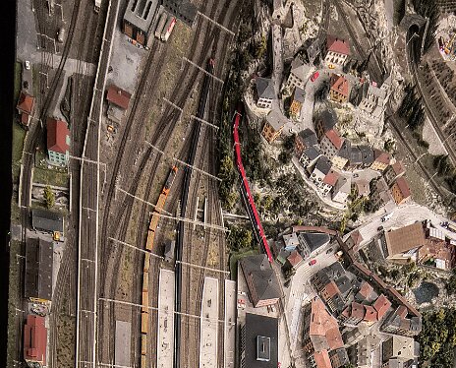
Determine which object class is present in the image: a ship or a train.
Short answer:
train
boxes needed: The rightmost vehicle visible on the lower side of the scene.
[439,217,456,231]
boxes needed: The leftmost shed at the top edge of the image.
[122,0,164,40]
